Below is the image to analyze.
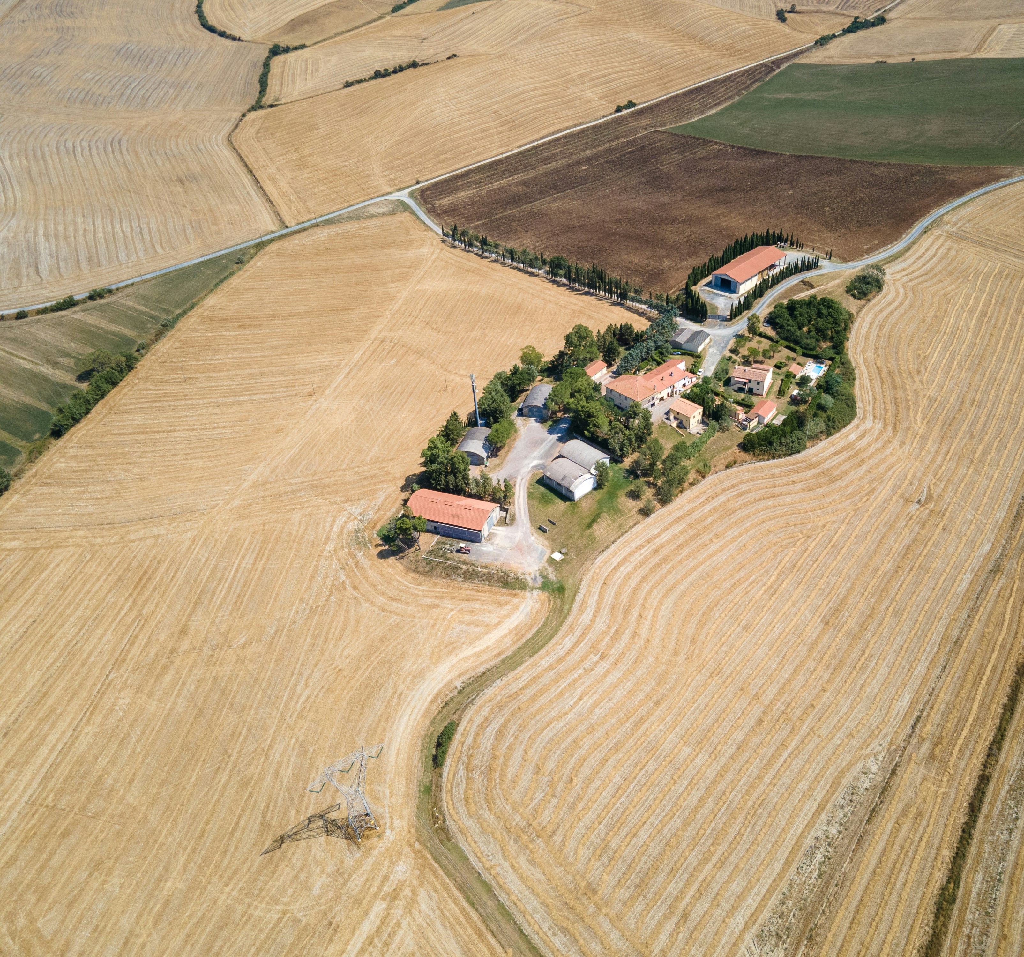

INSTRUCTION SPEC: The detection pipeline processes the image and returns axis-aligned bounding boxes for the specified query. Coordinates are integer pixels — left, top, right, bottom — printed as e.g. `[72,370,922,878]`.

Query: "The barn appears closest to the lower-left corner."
[402,489,502,544]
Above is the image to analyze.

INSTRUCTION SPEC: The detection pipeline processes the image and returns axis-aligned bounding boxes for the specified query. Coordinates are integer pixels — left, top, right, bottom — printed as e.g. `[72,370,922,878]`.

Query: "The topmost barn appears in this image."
[711,251,799,297]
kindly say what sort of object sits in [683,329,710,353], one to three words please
shed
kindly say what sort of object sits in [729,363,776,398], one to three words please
house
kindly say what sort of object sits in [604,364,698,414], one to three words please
house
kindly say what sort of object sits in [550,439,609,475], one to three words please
shed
